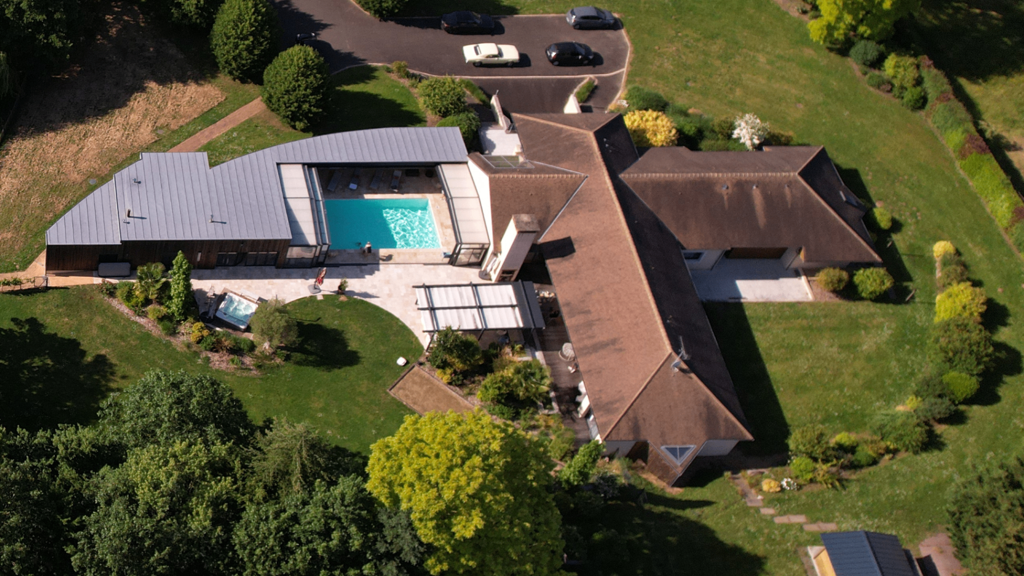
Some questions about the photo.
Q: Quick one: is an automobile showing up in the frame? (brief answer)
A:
Yes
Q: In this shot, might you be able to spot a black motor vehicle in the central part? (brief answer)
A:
No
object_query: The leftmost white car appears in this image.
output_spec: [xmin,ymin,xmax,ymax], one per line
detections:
[460,41,522,65]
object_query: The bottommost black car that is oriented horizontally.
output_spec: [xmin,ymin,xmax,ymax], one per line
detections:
[543,39,595,63]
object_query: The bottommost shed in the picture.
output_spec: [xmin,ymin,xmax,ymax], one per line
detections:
[803,530,915,576]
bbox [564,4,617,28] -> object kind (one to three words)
car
